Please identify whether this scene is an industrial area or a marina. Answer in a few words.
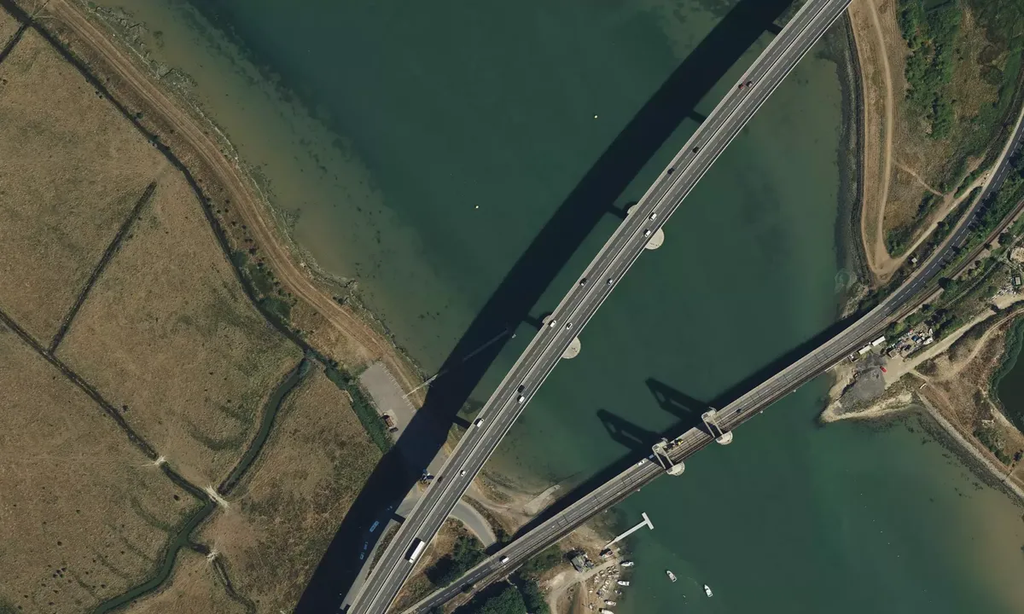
marina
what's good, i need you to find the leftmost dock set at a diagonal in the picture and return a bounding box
[404,330,508,396]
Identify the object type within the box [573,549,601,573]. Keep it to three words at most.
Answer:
building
